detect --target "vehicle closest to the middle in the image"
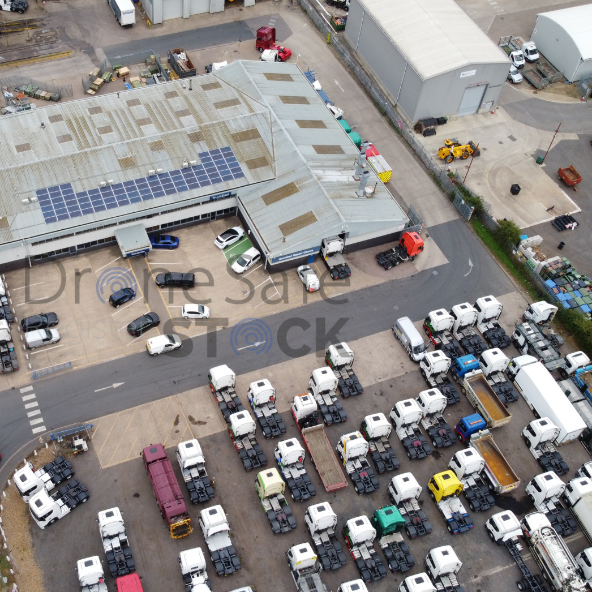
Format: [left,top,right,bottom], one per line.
[296,265,321,295]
